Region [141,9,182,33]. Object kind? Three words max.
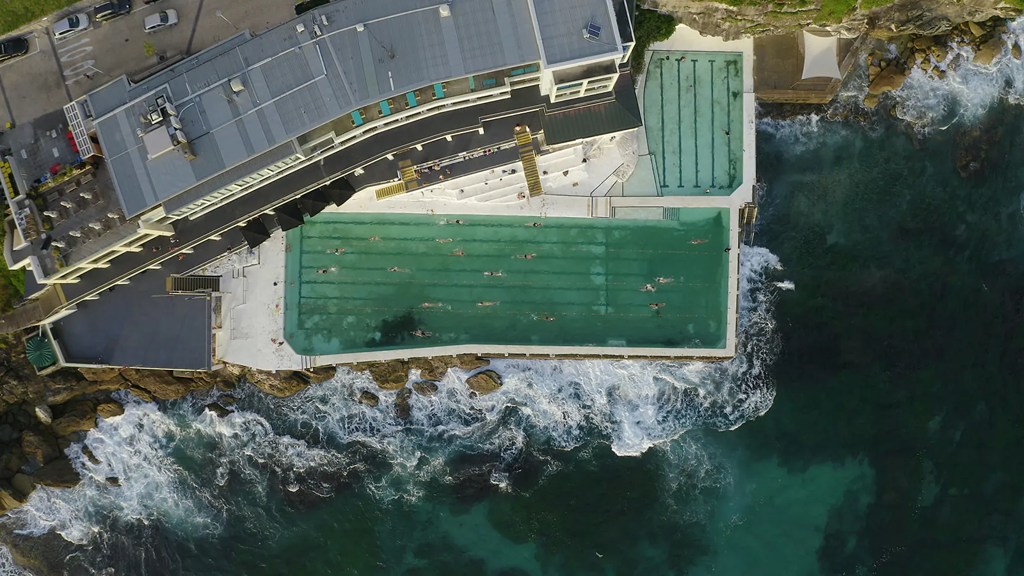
car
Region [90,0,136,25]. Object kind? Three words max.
car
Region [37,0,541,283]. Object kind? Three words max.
building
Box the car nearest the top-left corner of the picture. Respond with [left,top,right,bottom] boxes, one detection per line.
[0,37,30,61]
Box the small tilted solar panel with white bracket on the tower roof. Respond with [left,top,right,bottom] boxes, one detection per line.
[581,21,601,38]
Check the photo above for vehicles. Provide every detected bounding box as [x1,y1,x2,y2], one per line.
[141,9,182,33]
[141,0,177,10]
[52,13,93,39]
[0,37,30,61]
[90,0,136,25]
